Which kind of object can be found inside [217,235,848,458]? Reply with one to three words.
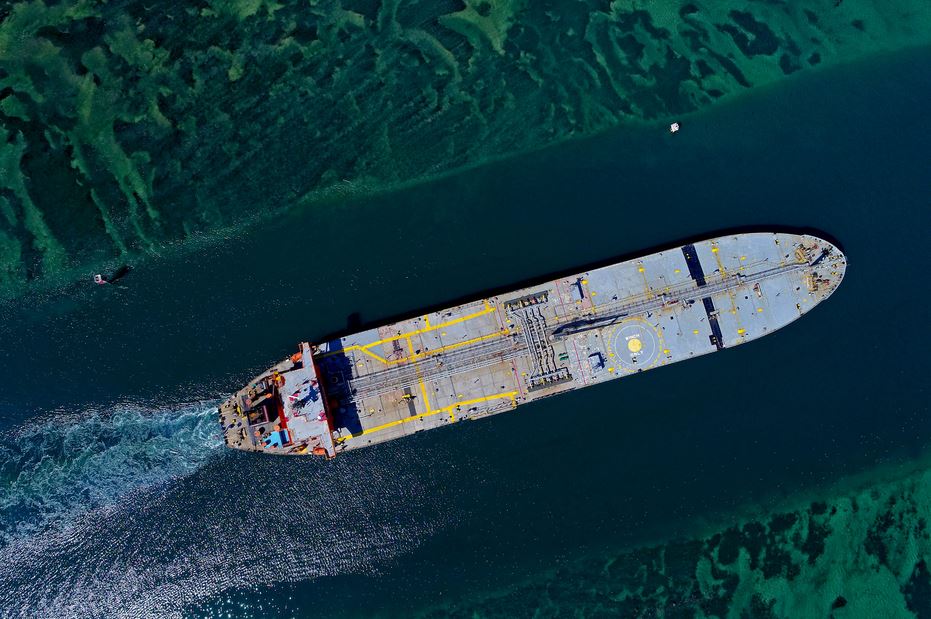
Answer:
ship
